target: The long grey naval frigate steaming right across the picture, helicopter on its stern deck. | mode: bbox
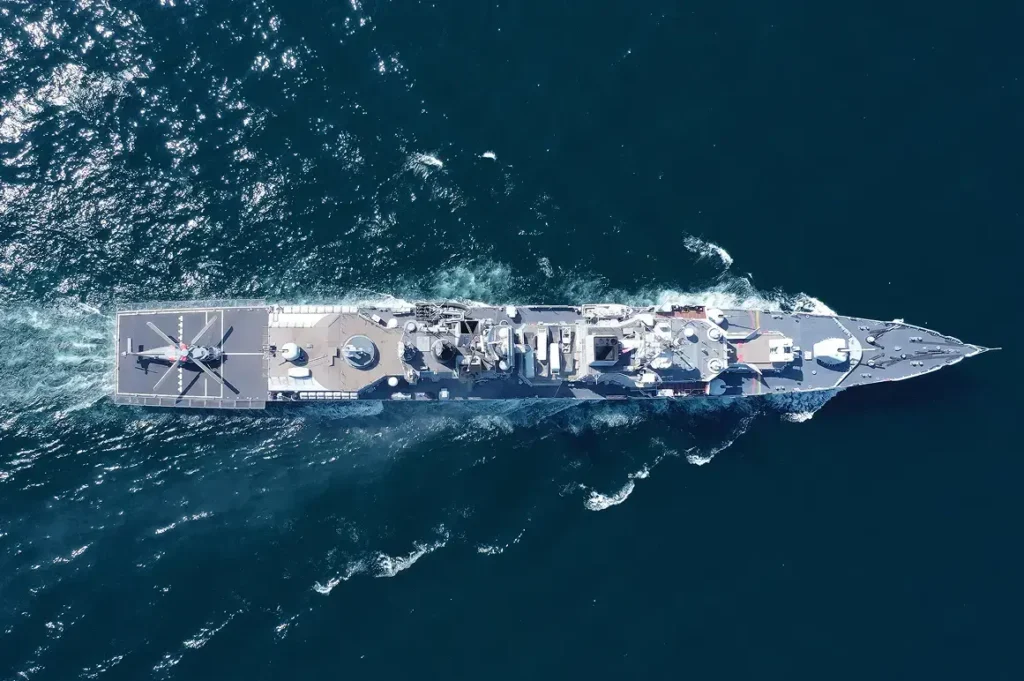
[115,299,1002,410]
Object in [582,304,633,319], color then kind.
white boat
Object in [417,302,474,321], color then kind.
gray boat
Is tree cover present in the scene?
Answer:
No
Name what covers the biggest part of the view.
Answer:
water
